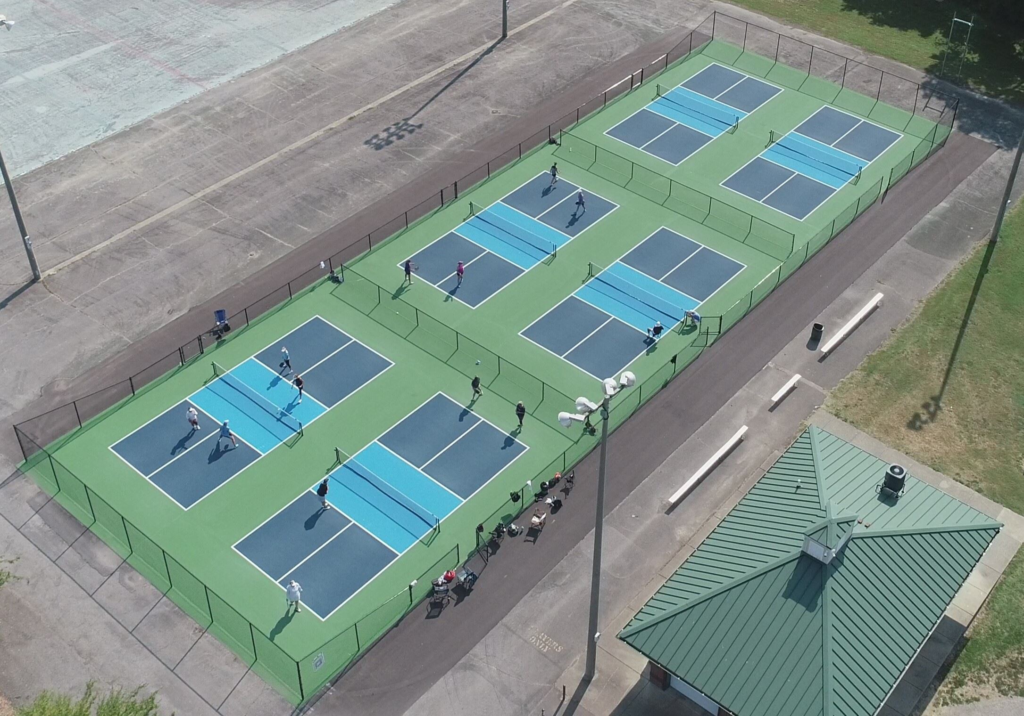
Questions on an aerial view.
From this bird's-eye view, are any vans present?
No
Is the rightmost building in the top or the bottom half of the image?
bottom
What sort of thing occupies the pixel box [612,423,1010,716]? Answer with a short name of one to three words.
building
